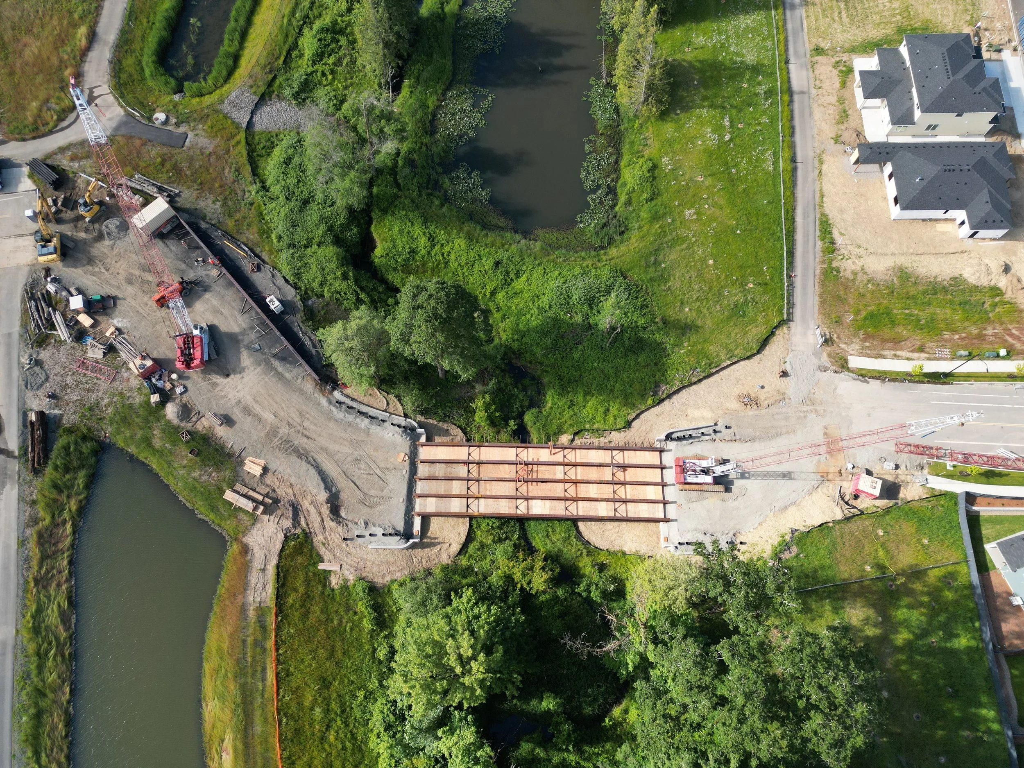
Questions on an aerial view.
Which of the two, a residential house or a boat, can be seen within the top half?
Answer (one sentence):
The one visible within the top half is a residential house.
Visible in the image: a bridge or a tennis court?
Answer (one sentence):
The image shows a bridge.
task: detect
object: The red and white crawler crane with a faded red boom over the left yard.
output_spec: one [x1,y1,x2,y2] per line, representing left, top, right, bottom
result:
[66,73,218,381]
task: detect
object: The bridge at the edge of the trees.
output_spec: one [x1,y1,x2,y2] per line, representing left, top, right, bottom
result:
[337,391,715,555]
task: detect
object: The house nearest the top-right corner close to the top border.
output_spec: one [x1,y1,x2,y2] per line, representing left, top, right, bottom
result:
[854,33,1006,136]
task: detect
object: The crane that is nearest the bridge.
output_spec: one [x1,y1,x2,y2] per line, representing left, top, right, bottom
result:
[672,410,984,493]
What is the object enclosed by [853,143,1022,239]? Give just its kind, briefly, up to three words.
house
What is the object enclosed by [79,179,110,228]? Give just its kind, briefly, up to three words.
work vehicle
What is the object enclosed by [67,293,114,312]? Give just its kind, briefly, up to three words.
trailer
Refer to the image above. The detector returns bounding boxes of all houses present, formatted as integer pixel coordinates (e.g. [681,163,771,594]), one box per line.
[988,533,1024,624]
[854,33,1006,136]
[853,143,1022,239]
